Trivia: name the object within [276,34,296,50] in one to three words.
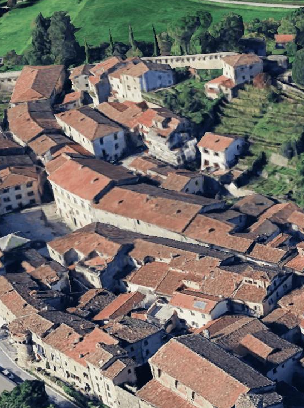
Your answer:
house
